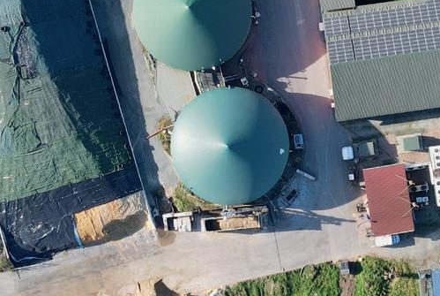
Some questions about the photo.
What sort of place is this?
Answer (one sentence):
This image shows an industrial area.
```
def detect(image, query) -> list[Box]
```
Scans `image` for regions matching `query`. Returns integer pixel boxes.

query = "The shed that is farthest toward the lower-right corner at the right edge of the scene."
[417,265,440,296]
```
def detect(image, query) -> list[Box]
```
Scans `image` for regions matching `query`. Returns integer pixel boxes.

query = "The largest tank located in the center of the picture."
[170,86,290,207]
